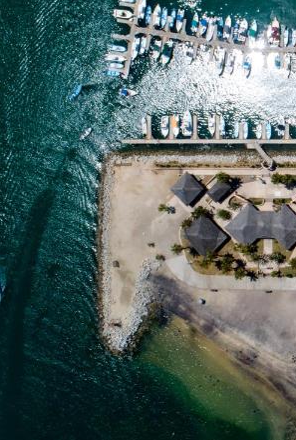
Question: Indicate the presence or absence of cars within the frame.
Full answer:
No, the frame has no car in it.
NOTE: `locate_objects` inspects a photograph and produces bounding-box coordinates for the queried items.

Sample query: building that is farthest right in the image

[225,203,296,249]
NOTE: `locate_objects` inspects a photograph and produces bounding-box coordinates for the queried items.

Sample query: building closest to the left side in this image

[170,172,205,206]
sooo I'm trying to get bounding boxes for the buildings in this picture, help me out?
[207,181,233,202]
[184,216,230,256]
[170,172,205,206]
[225,203,296,249]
